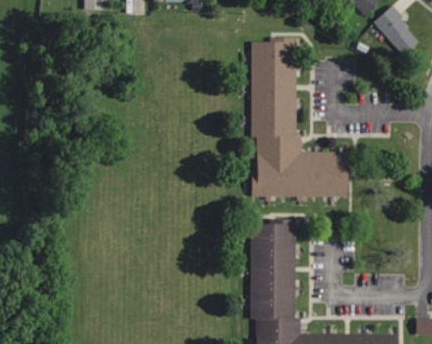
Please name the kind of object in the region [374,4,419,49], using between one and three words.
house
